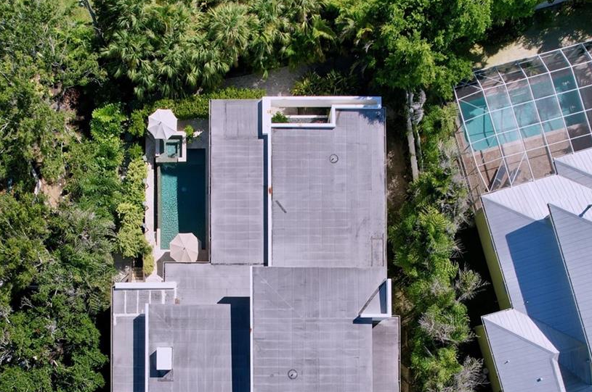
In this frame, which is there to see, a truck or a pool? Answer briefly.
pool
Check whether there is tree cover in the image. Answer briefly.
Yes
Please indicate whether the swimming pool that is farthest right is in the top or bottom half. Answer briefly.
top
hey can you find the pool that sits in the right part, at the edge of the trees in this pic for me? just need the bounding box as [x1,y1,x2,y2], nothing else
[457,65,590,156]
